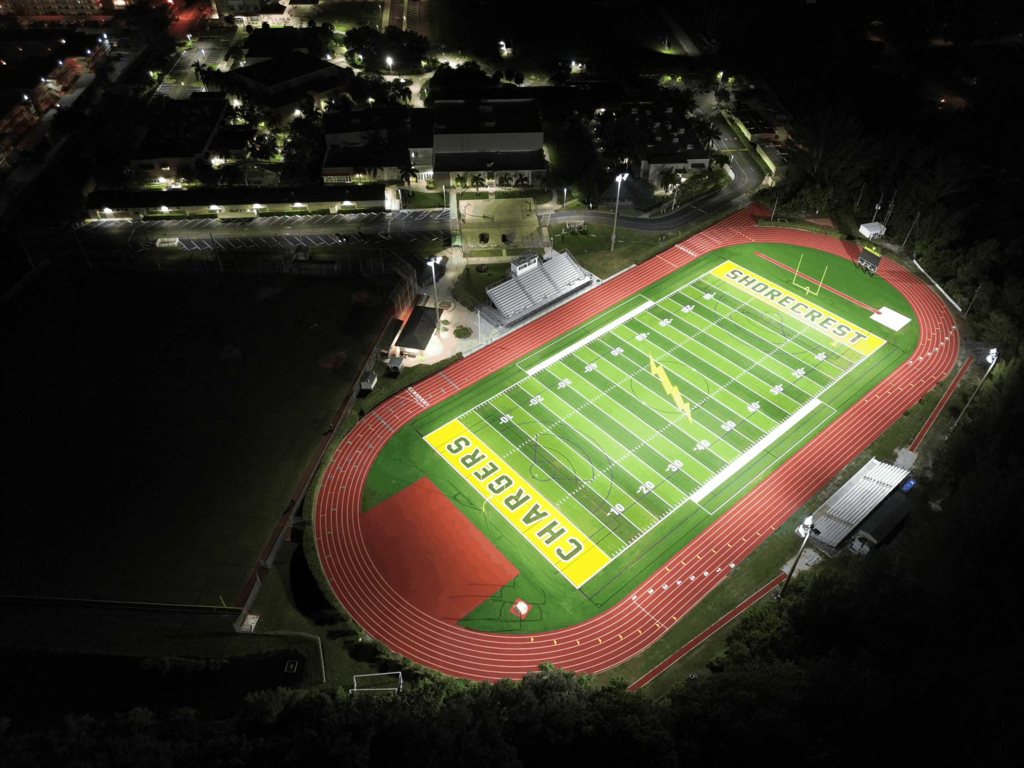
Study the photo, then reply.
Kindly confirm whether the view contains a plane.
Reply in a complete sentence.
No, no plane is visible in the view.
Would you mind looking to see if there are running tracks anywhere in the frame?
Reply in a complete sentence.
Yes, a running track can be made out from above.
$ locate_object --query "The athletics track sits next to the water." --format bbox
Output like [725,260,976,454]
[312,203,959,687]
